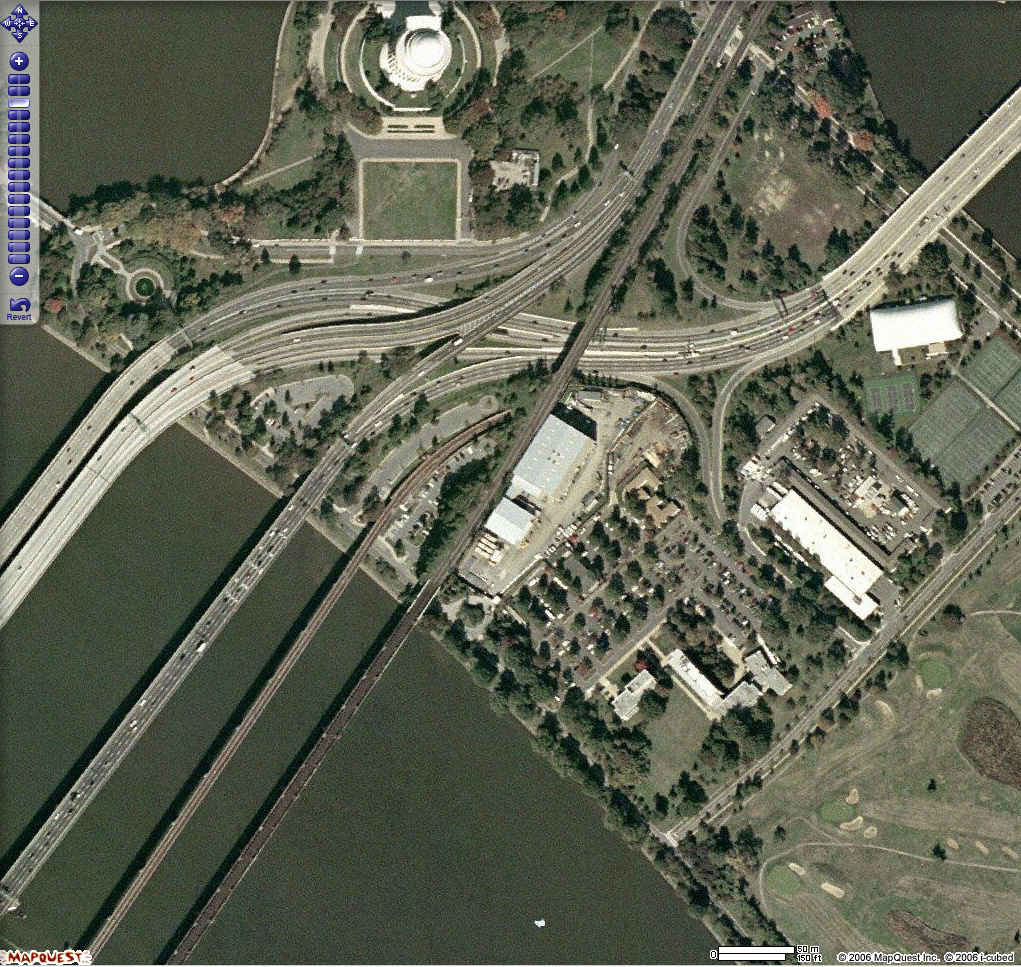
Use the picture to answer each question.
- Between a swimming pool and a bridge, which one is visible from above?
bridge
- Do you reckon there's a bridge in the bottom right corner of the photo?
No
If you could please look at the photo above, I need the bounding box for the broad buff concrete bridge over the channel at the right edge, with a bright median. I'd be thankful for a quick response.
[822,88,1021,330]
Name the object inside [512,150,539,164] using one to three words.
building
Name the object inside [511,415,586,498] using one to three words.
shed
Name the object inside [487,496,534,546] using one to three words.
shed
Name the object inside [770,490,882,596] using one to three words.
building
